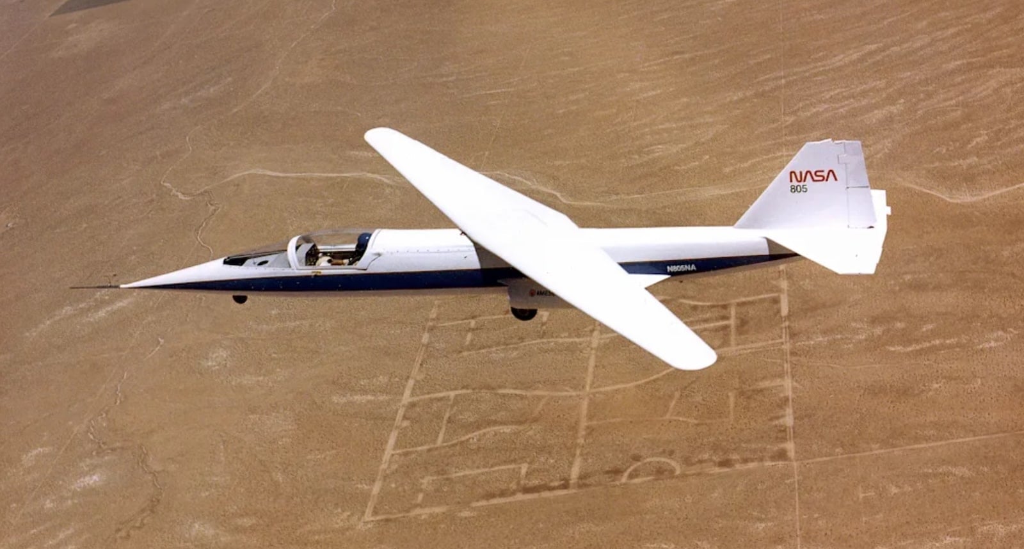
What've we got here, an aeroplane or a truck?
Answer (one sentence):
Visible in the photo is an aeroplane.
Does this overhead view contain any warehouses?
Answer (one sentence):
No, the photo shows no warehouse.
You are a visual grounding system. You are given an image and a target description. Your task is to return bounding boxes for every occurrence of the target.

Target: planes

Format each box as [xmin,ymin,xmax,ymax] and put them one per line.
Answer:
[70,127,890,370]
